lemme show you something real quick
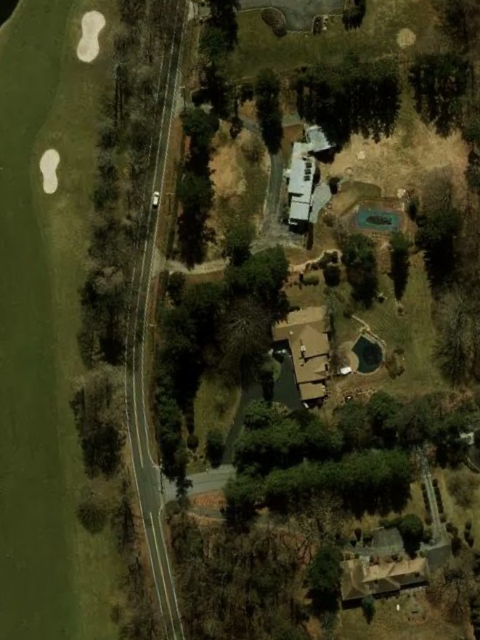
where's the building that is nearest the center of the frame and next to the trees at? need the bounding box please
[275,307,331,400]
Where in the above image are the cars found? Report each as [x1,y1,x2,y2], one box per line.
[153,192,159,205]
[301,400,311,412]
[273,348,286,355]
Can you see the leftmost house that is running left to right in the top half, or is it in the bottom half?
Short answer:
bottom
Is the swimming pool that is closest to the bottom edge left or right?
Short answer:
right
